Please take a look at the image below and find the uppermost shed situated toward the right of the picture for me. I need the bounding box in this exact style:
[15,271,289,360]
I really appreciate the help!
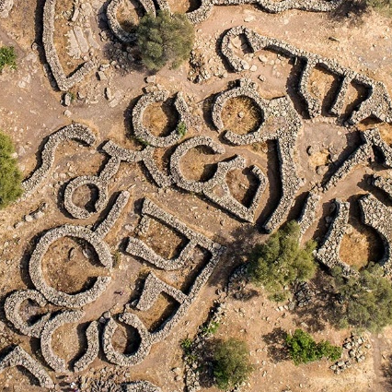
[211,81,271,144]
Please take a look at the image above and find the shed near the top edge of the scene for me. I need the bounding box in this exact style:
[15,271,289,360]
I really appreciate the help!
[105,0,156,45]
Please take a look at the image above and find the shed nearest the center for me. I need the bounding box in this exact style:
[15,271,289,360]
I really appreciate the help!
[170,135,245,194]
